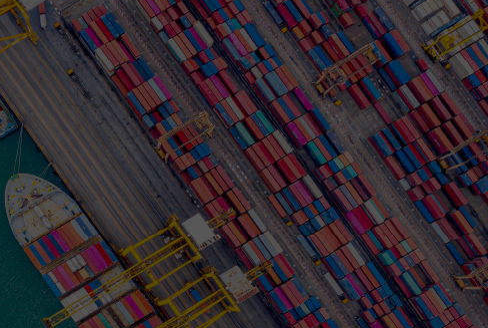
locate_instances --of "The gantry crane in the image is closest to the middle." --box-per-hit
[153,112,217,163]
